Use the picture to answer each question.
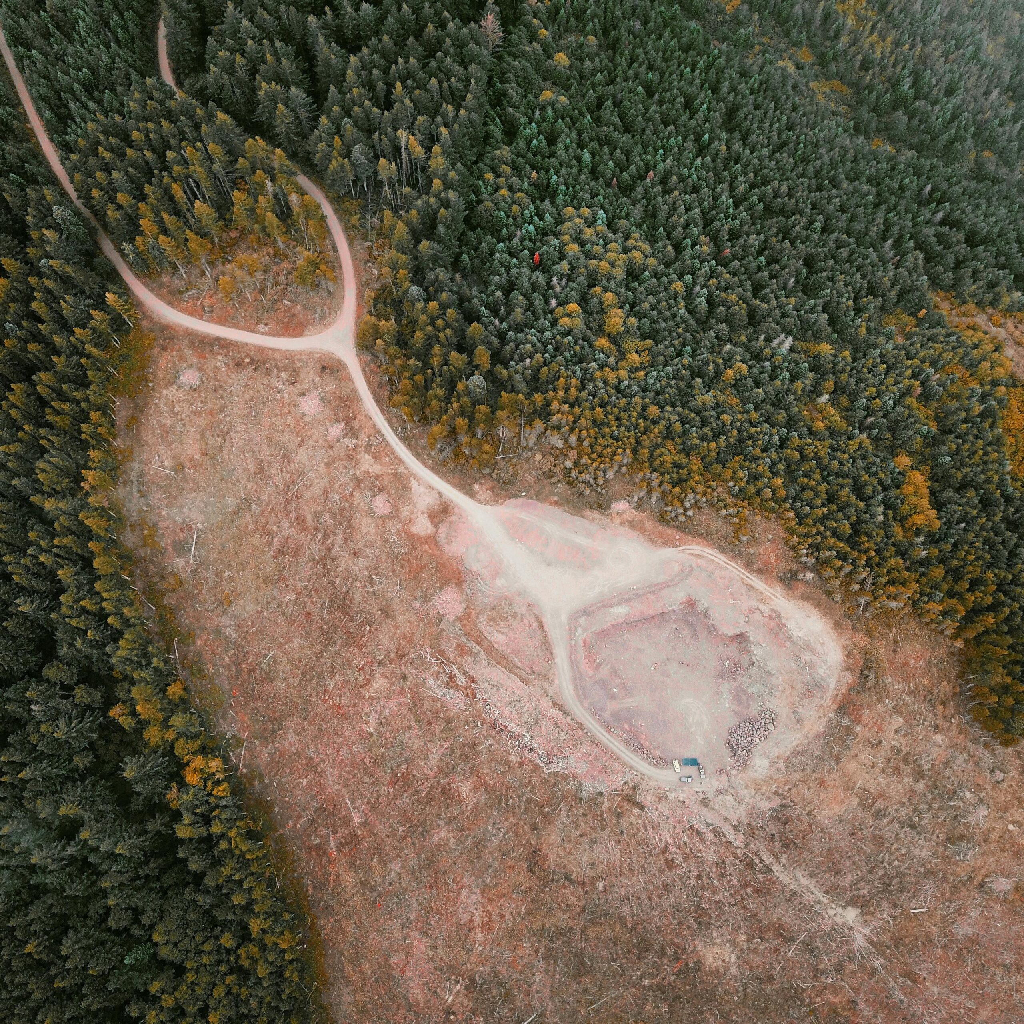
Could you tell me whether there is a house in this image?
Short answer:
No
